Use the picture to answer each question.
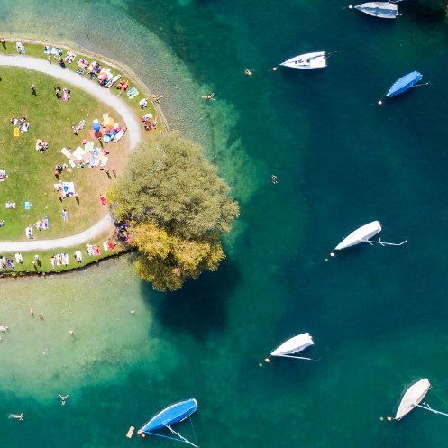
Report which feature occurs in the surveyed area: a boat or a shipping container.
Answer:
boat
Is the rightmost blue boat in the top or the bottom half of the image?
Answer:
top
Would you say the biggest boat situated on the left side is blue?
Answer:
Yes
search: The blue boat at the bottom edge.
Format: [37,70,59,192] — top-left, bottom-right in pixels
[142,396,204,442]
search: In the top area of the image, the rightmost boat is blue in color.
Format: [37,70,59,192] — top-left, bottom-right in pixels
[386,68,429,95]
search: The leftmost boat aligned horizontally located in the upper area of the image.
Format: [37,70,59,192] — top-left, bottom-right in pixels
[280,52,339,70]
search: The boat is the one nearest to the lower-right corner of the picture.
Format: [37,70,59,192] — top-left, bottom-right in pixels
[394,377,448,419]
